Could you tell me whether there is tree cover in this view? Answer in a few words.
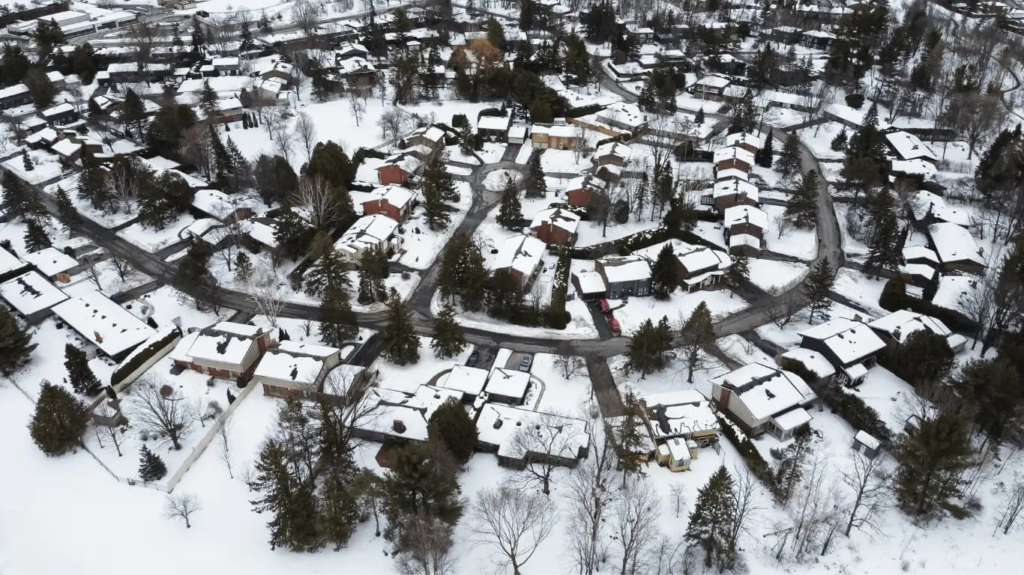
Yes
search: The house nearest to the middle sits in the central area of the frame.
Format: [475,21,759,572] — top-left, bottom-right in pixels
[490,238,546,292]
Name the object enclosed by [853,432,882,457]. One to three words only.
shed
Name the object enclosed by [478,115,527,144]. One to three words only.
house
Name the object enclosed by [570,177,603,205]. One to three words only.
house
